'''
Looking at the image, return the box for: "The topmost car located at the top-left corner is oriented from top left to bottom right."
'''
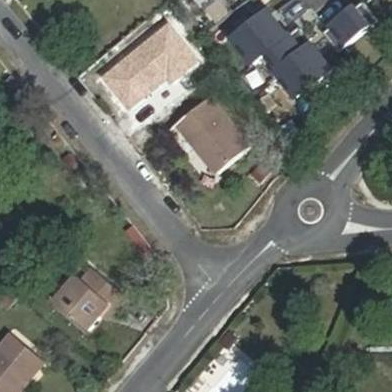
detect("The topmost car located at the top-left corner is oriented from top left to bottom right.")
[2,19,22,39]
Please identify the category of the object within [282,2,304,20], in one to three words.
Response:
car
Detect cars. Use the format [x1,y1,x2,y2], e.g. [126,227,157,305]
[135,104,156,122]
[136,162,154,182]
[2,19,22,39]
[68,78,88,98]
[282,2,304,20]
[163,197,180,214]
[62,121,80,139]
